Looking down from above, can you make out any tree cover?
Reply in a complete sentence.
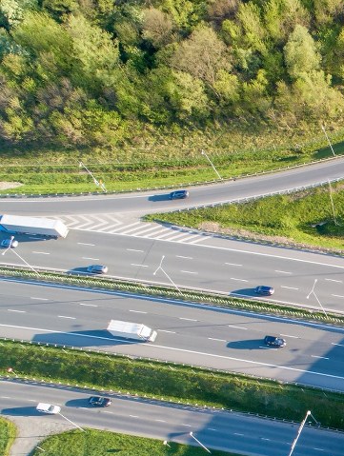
Yes, there's tree cover in this view.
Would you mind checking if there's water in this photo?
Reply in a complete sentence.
No, there's no water in this view.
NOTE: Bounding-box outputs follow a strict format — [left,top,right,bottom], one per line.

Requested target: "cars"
[262,336,286,348]
[87,264,107,275]
[36,404,60,416]
[0,238,15,248]
[169,189,190,200]
[254,286,275,296]
[88,396,112,407]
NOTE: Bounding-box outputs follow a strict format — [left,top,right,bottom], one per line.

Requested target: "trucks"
[0,214,65,238]
[107,320,157,343]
